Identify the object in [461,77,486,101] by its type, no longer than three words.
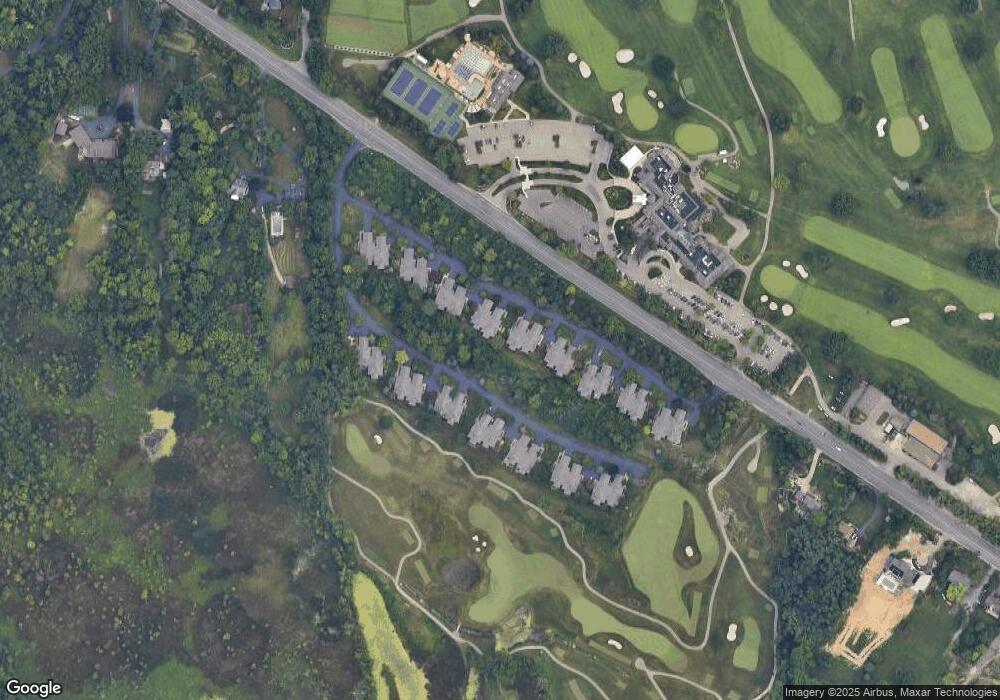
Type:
swimming pool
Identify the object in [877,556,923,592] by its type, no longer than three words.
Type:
house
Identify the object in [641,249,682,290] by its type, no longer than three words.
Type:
roundabout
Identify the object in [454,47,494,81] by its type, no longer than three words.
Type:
swimming pool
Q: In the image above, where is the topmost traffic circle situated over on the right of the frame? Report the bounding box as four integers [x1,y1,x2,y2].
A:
[599,177,645,219]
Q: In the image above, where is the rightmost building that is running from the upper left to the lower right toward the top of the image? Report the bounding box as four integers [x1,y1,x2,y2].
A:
[635,151,738,289]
